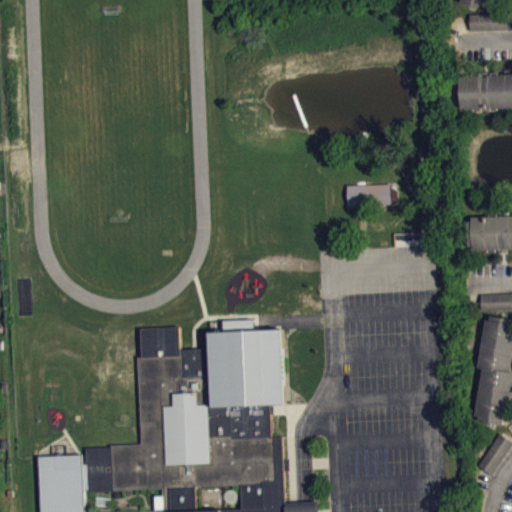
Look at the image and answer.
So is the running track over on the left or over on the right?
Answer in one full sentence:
It is on the left.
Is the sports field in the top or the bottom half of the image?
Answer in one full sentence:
The sports field is in the top half of the image.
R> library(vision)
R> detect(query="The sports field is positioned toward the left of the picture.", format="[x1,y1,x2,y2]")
[56,0,181,221]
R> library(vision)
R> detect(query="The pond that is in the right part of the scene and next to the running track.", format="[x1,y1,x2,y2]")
[264,65,414,136]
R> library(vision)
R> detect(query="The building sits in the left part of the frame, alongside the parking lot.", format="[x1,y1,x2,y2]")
[82,320,284,512]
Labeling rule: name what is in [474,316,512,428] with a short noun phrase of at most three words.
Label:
house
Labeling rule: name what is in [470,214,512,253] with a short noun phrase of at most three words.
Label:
house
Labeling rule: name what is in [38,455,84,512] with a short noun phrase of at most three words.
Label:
building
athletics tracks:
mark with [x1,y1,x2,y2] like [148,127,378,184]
[26,0,212,314]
